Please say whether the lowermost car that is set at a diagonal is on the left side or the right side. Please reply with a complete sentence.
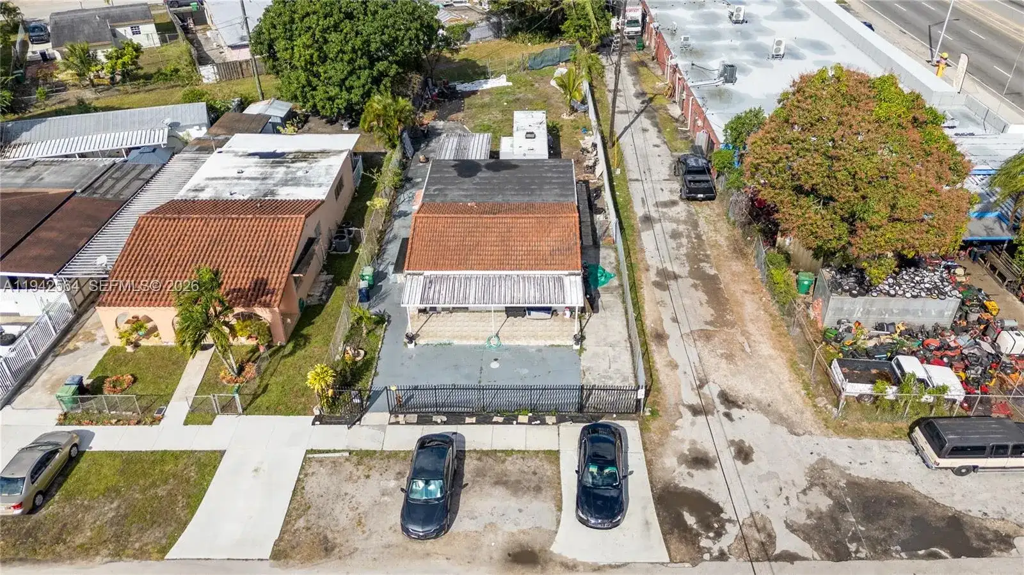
The lowermost car that is set at a diagonal is on the left side of the image.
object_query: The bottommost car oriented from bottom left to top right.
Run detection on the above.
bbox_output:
[0,429,73,516]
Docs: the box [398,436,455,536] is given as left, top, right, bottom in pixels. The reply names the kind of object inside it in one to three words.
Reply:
car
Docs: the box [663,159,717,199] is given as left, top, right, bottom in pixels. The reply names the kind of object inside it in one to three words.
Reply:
truck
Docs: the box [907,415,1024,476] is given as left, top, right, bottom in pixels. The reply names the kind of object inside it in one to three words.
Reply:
car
